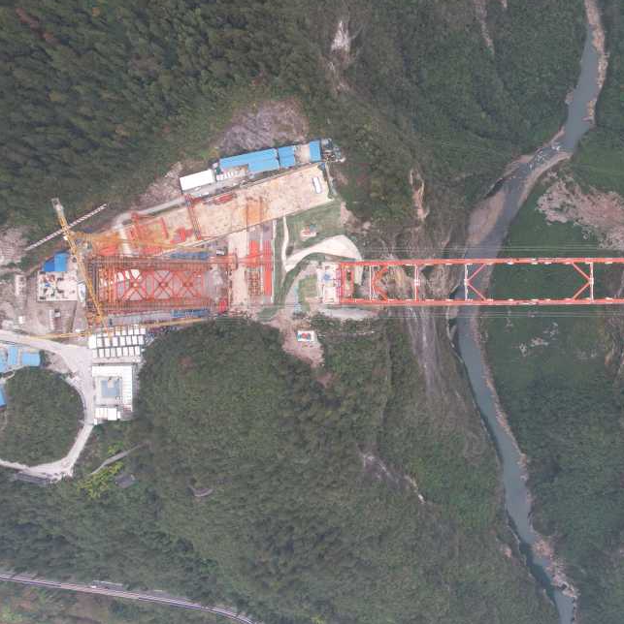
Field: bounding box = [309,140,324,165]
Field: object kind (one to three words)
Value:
shed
